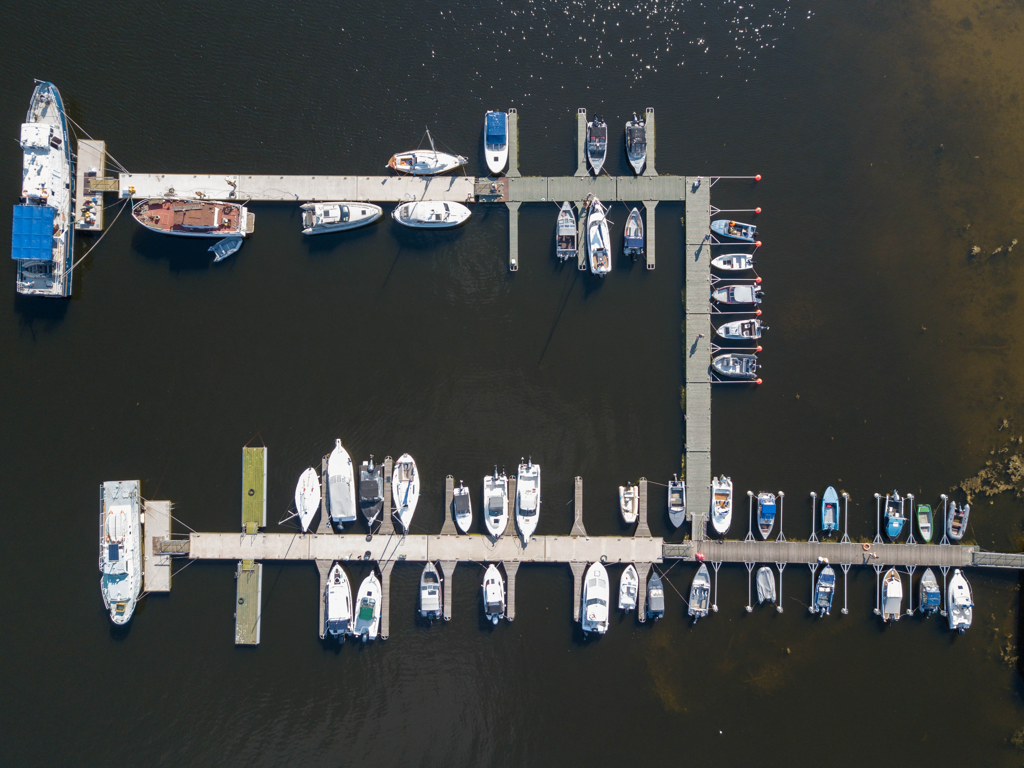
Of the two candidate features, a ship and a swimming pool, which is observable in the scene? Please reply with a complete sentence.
Of the two, only a ship appears.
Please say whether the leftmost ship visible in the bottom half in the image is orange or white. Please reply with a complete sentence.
The color of the leftmost ship visible in the bottom half is white.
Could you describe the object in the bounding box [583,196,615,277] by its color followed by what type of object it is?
white boat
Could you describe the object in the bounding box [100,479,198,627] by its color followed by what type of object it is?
white ship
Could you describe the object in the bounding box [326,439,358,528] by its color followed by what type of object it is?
white boat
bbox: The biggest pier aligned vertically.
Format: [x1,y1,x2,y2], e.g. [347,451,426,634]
[685,176,710,520]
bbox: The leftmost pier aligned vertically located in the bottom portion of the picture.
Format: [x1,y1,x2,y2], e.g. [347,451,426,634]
[144,499,173,591]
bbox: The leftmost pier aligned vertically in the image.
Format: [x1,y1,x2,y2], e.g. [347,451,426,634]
[75,139,107,231]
